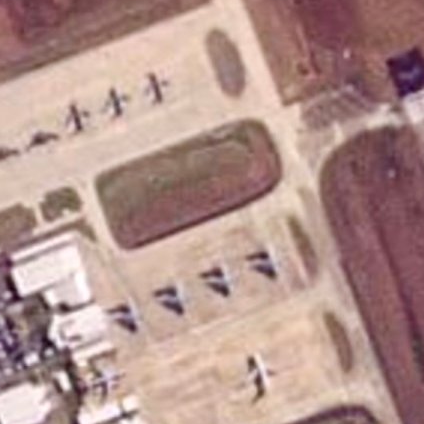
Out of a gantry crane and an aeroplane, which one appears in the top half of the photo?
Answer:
aeroplane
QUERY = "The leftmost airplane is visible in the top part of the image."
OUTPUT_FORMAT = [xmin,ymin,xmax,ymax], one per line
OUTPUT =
[0,145,23,163]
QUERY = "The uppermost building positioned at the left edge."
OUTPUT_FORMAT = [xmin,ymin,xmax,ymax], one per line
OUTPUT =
[11,233,78,264]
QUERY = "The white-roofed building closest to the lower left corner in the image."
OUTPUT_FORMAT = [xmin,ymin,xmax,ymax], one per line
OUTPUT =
[0,383,53,424]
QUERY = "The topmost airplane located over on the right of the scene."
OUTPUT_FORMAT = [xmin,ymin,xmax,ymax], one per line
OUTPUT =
[248,247,275,274]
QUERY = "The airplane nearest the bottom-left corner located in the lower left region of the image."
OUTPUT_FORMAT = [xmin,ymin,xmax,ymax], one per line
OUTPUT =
[87,366,122,393]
